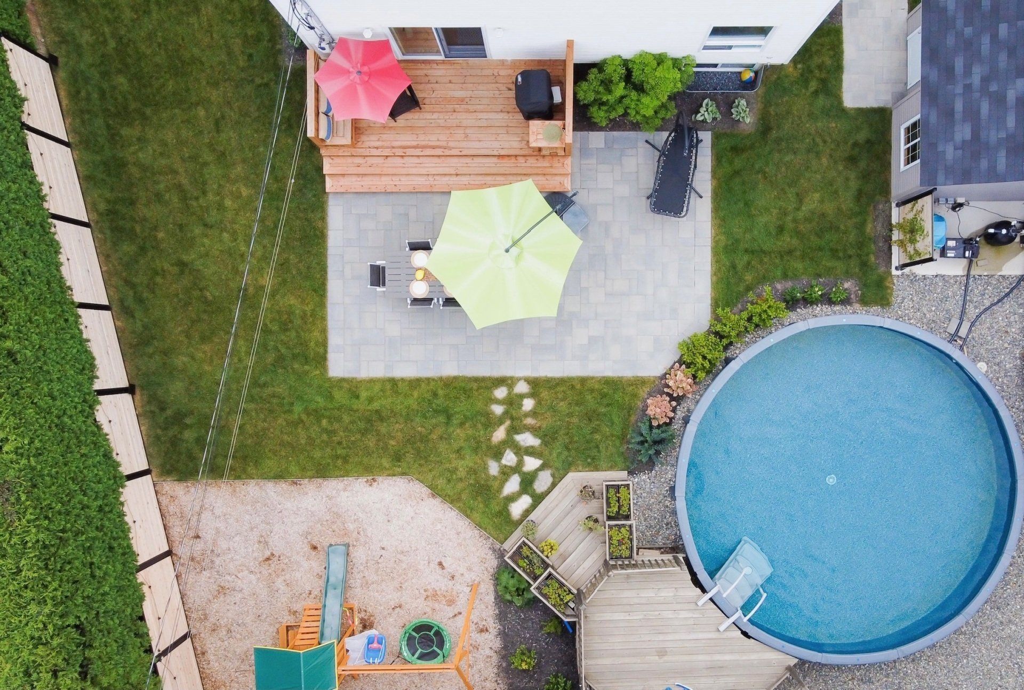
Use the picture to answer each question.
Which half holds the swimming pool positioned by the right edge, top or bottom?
bottom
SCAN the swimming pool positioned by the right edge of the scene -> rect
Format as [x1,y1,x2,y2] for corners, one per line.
[668,314,1024,665]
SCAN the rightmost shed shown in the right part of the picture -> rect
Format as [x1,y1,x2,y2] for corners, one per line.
[893,0,1024,201]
